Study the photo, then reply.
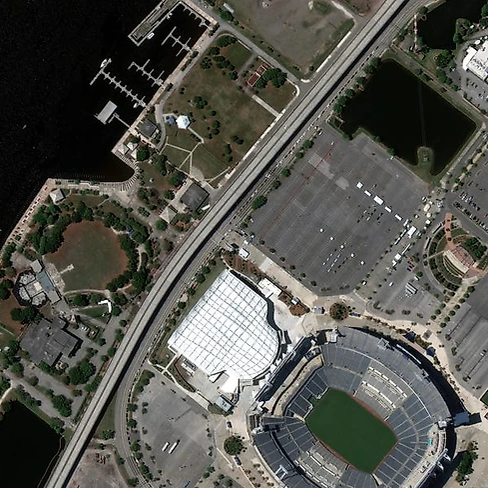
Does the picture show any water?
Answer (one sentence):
Yes, water can be seen from above here.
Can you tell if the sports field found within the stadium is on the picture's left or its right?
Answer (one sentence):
It is on the right.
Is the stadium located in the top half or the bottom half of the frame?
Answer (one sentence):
Seen from above, the stadium lies in the bottom half of the view.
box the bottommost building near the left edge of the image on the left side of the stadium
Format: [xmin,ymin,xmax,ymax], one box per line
[20,317,82,367]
